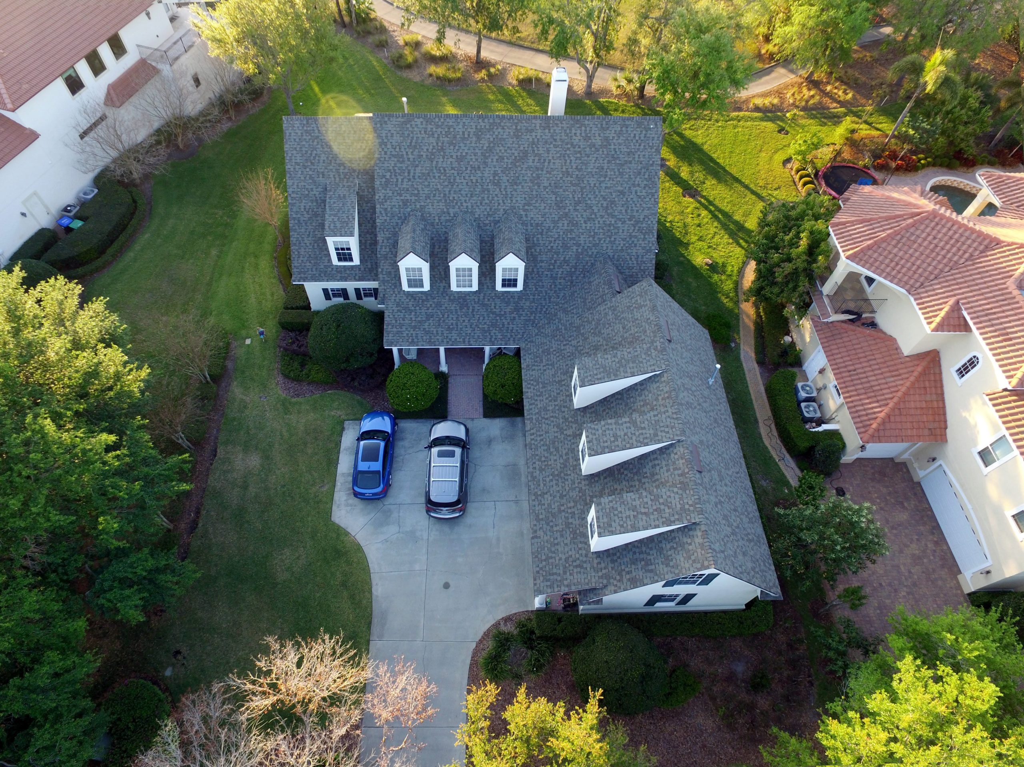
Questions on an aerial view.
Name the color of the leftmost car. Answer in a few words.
blue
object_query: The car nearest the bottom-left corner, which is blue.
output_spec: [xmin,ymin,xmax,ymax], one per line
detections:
[349,411,398,504]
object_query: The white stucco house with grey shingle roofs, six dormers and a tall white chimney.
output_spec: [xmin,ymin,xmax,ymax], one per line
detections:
[282,63,782,615]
